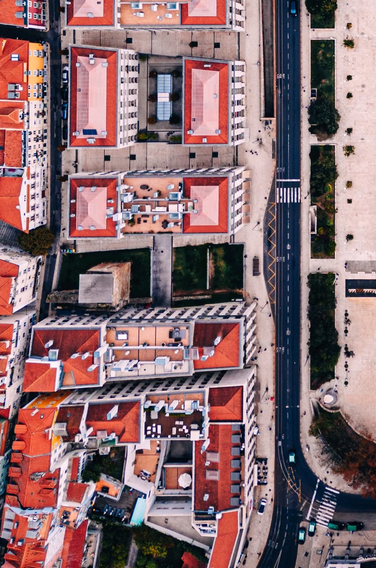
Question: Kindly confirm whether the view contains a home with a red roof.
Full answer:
Yes, the picture does show a home with a red roof.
